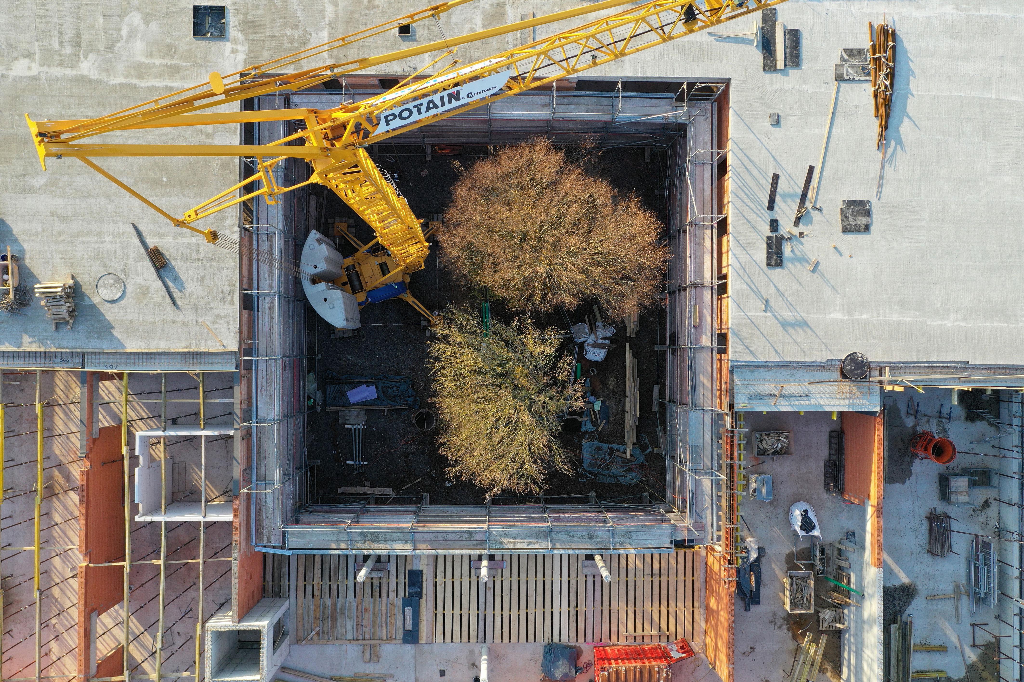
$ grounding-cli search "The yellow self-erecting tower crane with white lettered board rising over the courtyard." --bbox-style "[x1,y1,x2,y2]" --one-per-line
[24,0,781,336]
